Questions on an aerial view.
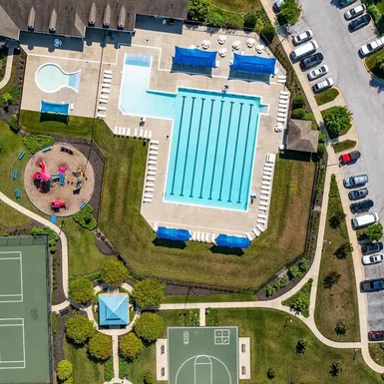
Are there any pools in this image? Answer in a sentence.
Yes, you can see a pool in this photo.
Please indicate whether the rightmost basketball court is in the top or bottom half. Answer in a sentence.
Seen from above, the rightmost basketball court lies in the bottom half of the view.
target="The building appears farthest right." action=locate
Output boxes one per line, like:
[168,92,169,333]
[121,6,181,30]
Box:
[283,119,319,152]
